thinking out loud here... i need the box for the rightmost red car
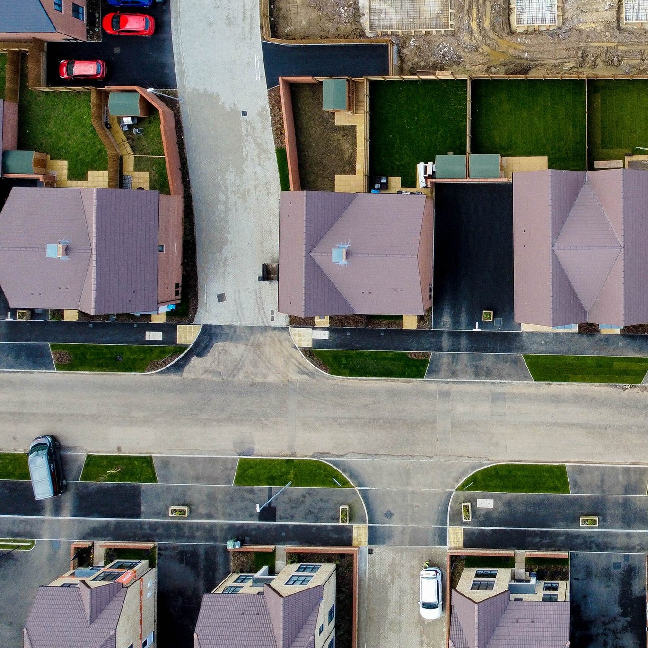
[103,9,157,37]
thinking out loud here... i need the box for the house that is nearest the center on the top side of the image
[277,191,435,318]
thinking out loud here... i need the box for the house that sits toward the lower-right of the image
[449,567,571,648]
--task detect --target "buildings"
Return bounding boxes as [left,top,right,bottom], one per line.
[277,191,435,318]
[513,169,648,327]
[449,567,571,648]
[198,560,337,648]
[23,561,157,648]
[109,92,151,118]
[434,155,468,178]
[0,186,184,318]
[323,79,352,112]
[0,98,37,180]
[469,154,501,178]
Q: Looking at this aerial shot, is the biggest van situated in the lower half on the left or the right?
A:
left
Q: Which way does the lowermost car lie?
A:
from top to bottom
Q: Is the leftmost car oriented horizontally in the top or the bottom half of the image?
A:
top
